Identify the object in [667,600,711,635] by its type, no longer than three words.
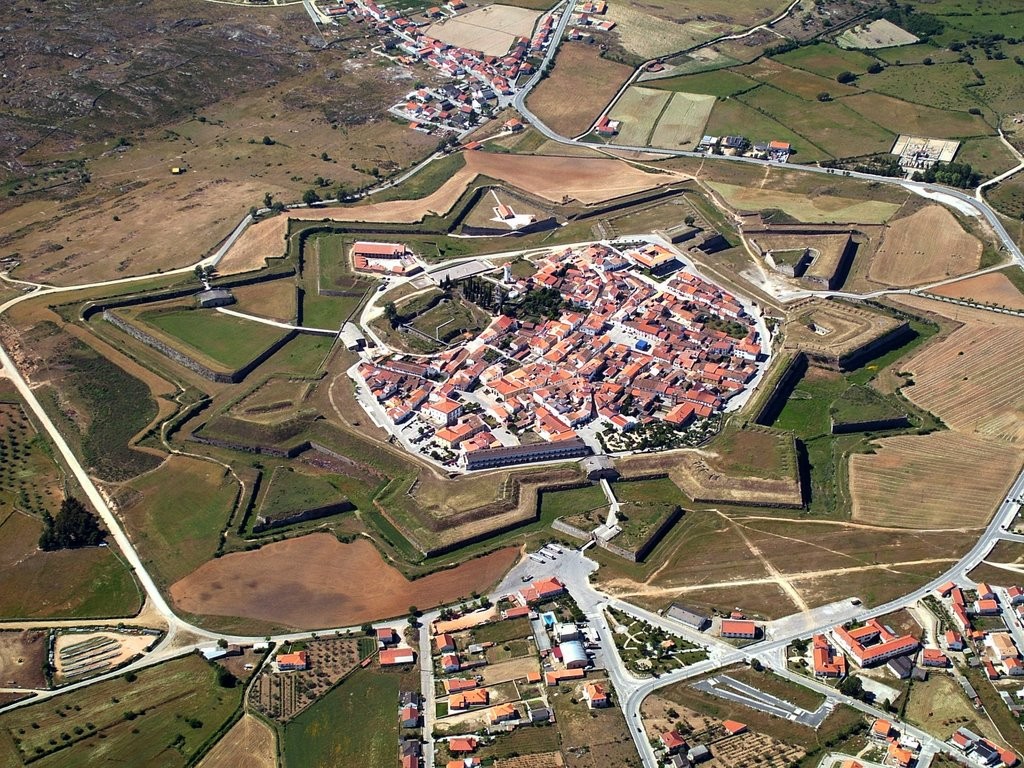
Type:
barn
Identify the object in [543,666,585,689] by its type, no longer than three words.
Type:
shed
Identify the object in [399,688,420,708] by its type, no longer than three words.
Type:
house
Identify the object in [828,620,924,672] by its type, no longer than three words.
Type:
building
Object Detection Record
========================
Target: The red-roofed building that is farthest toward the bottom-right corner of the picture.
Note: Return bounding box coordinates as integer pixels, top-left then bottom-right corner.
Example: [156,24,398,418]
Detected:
[984,736,1015,768]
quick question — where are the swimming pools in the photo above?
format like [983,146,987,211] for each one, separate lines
[541,611,557,627]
